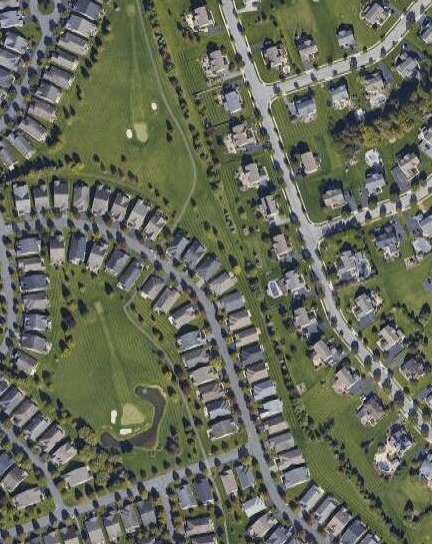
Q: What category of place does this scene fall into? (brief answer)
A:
residential area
